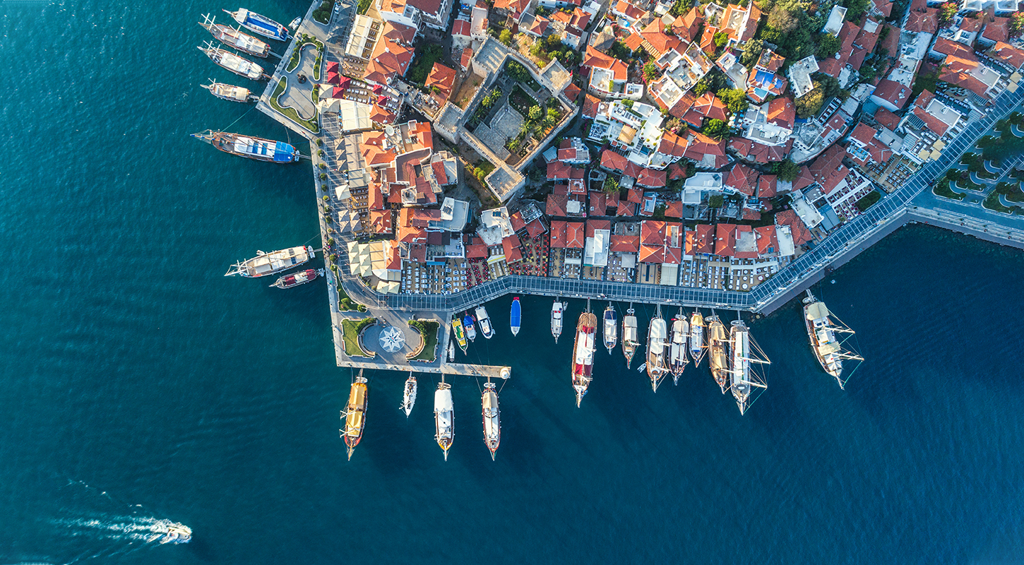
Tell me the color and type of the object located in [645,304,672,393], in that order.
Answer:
white boat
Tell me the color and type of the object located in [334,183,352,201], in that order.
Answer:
white umbrella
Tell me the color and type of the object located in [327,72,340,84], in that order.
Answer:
red umbrella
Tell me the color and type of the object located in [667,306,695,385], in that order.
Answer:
white boat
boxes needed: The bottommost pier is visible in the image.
[443,363,511,378]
